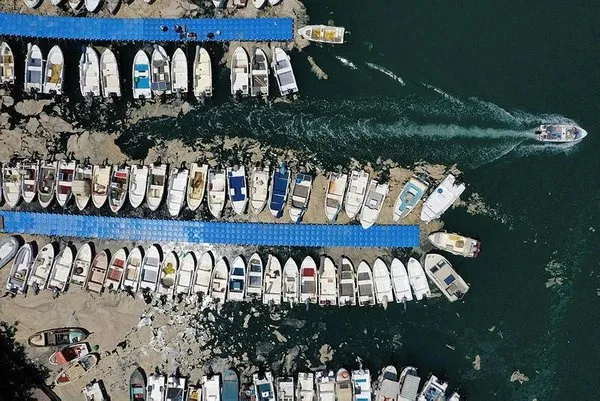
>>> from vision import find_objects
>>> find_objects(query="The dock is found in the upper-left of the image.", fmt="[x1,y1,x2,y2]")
[0,11,295,41]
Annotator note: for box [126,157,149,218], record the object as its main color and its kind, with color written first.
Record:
white boat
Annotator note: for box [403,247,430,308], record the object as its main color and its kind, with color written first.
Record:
white boat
